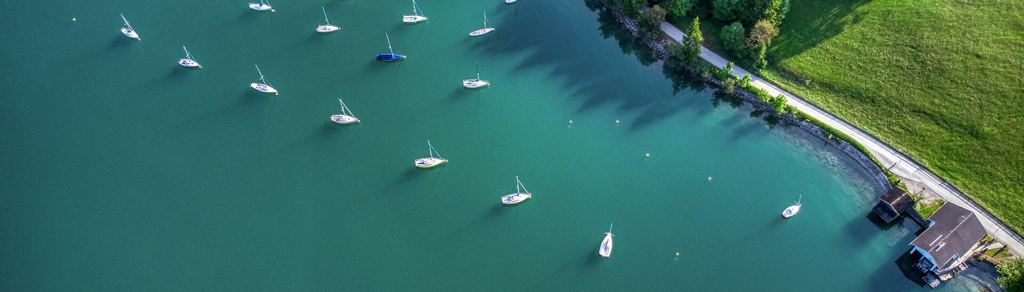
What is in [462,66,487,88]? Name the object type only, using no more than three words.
boat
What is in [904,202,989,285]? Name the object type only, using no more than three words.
building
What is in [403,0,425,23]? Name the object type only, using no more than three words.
boat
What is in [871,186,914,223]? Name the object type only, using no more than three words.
building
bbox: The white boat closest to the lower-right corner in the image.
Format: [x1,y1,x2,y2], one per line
[781,195,801,219]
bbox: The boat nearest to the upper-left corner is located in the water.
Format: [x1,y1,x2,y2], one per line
[120,15,140,41]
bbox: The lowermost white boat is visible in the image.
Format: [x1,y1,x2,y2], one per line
[599,224,613,258]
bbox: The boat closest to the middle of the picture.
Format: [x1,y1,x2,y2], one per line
[502,177,530,205]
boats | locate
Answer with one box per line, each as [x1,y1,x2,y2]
[248,0,271,11]
[415,140,444,168]
[599,224,613,258]
[462,66,487,88]
[469,11,494,38]
[331,98,358,125]
[120,15,140,41]
[375,33,403,61]
[403,0,425,23]
[177,47,200,69]
[781,195,801,219]
[315,7,338,34]
[916,260,931,274]
[249,64,278,94]
[502,177,530,205]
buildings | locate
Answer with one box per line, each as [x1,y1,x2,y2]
[904,202,989,285]
[871,186,914,223]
